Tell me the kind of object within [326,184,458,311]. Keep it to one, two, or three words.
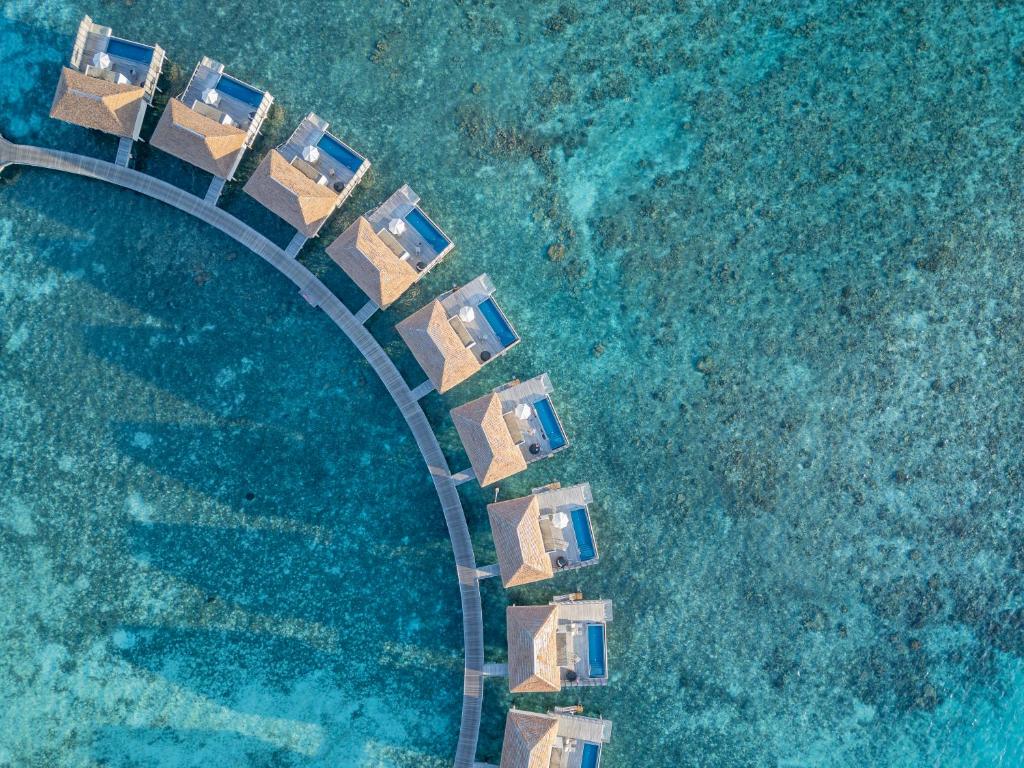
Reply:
house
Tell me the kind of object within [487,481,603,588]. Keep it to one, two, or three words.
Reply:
house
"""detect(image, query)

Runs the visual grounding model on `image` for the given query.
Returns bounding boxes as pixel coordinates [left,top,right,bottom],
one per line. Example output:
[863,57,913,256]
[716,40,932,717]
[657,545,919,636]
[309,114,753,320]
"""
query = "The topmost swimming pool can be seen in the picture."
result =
[105,37,165,66]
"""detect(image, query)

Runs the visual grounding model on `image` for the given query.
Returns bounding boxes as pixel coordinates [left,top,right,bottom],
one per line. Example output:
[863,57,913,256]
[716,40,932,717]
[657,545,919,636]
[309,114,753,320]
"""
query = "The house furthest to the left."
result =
[51,12,177,146]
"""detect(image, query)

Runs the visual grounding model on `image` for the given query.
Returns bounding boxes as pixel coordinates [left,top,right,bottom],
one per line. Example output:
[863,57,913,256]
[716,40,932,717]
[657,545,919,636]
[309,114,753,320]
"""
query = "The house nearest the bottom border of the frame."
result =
[501,694,614,768]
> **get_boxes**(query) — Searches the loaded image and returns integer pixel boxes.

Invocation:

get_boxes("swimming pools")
[568,504,598,563]
[586,621,606,679]
[315,131,366,179]
[403,206,453,257]
[105,37,165,66]
[215,73,270,114]
[476,294,521,350]
[578,738,600,768]
[532,394,570,453]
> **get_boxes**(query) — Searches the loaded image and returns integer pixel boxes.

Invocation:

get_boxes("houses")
[450,372,574,487]
[487,481,603,588]
[396,272,525,395]
[51,12,177,146]
[508,590,615,692]
[326,184,458,311]
[150,55,282,185]
[501,694,614,768]
[243,111,377,242]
